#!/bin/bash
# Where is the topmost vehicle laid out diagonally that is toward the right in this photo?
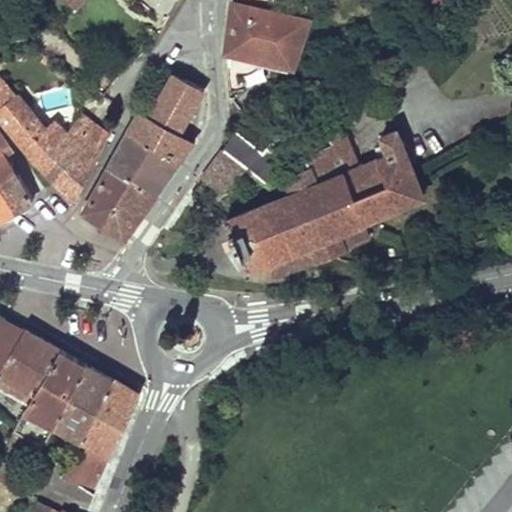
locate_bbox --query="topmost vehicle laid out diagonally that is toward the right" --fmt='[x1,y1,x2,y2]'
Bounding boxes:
[424,129,446,156]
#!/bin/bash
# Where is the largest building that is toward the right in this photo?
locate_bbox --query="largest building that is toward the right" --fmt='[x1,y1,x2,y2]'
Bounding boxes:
[229,173,427,278]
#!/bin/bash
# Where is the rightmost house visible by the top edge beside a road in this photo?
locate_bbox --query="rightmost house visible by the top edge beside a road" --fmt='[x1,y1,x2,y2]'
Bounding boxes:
[222,2,312,74]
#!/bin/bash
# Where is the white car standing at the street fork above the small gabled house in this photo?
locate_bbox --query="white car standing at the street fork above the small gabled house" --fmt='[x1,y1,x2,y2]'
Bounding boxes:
[165,42,183,64]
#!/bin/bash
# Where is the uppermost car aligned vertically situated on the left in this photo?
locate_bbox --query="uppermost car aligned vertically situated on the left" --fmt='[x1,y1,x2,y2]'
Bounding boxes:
[62,246,74,268]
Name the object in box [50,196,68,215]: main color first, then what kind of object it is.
white car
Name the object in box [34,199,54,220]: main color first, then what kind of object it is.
white car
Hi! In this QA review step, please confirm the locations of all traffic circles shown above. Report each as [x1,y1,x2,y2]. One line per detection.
[112,250,252,422]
